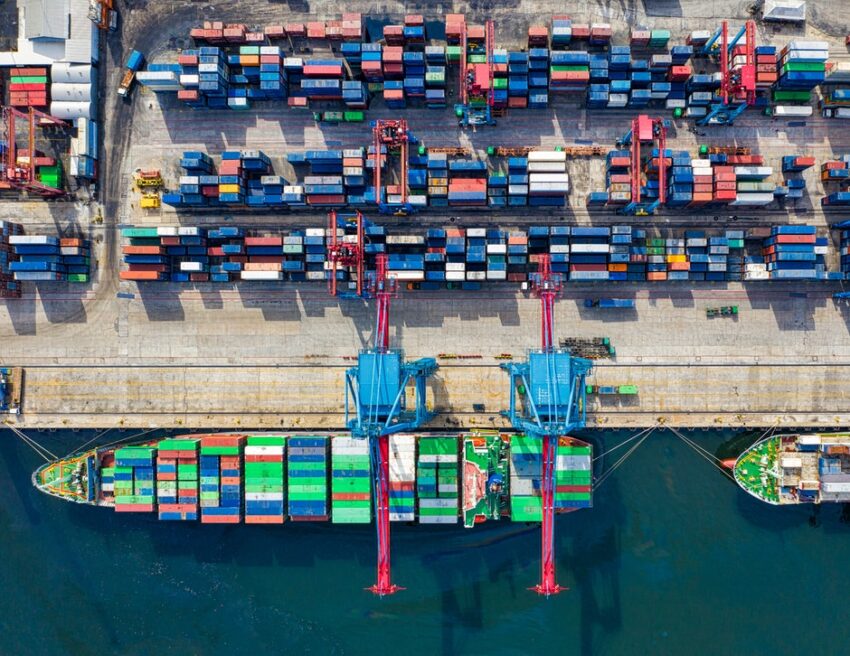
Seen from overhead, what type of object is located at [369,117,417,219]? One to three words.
container crane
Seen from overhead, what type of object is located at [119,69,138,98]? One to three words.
vehicle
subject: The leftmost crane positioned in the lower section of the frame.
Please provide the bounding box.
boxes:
[344,255,438,599]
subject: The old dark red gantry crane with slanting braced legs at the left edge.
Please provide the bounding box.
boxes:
[11,104,86,200]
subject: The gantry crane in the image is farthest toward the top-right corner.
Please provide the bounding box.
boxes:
[695,18,758,129]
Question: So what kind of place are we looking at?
port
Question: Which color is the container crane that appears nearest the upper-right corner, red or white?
red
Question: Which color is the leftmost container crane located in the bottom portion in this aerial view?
blue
